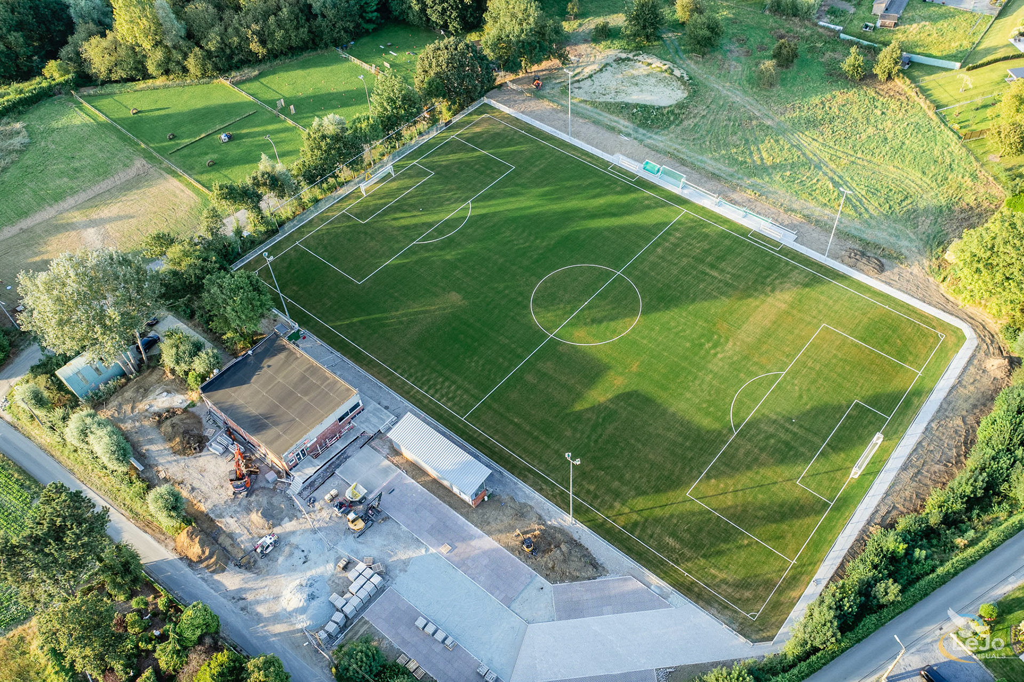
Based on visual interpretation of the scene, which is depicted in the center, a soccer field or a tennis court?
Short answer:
soccer field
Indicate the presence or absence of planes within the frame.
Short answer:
No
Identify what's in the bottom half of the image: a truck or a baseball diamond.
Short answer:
truck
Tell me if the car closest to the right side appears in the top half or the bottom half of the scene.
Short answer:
bottom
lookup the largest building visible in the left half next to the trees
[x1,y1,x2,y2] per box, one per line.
[198,331,362,471]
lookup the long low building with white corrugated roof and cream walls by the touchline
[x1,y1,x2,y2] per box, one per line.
[385,413,494,507]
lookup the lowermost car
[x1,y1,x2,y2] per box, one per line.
[920,659,958,682]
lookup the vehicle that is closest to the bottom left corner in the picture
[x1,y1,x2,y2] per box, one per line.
[218,533,283,580]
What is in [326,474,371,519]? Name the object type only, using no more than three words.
truck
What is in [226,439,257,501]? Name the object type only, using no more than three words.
work vehicle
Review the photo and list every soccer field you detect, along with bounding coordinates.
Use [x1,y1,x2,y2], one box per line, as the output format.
[232,103,967,644]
